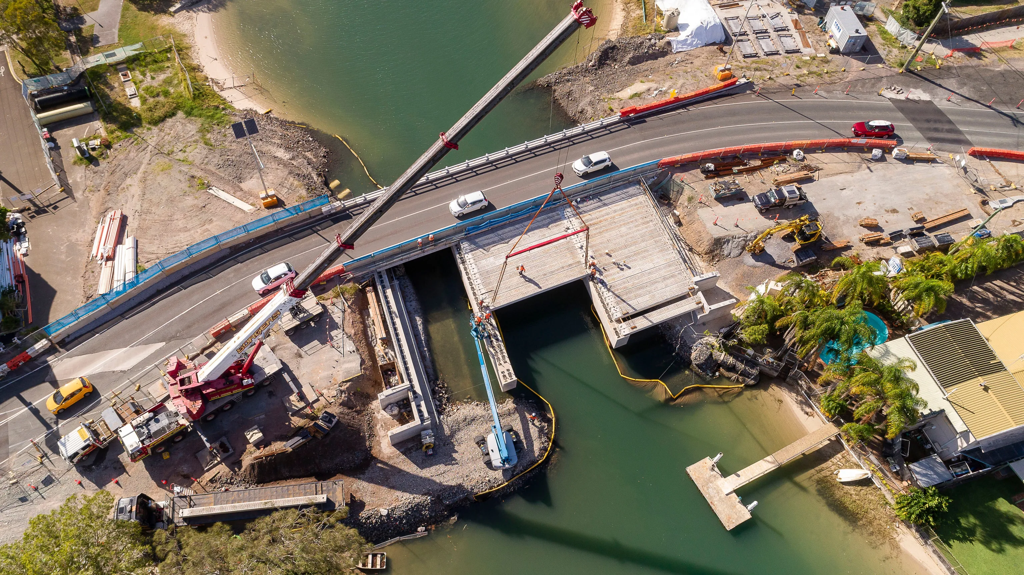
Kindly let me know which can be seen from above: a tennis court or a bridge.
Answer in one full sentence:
Of the two, only a bridge appears.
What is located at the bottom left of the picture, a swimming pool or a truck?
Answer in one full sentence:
The one visible at the bottom left of the picture is a truck.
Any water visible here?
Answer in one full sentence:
Yes, water shows up in the scene.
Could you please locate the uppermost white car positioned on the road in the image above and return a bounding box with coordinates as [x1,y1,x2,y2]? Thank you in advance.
[571,151,613,177]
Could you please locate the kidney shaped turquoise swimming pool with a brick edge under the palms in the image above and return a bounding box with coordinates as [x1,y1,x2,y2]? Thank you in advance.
[817,307,892,371]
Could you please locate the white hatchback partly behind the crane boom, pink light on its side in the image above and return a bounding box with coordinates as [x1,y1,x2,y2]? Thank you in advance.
[248,262,296,296]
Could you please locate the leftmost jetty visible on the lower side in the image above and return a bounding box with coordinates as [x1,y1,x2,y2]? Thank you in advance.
[684,452,759,532]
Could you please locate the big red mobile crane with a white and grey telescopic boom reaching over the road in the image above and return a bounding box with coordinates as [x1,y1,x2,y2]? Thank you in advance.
[115,7,597,463]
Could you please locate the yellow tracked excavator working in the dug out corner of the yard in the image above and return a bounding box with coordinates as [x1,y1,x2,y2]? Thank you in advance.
[749,211,830,254]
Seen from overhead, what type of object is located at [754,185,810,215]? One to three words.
truck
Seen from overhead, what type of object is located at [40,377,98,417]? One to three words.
car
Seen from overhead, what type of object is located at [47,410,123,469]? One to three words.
truck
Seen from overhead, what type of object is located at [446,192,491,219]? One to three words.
car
